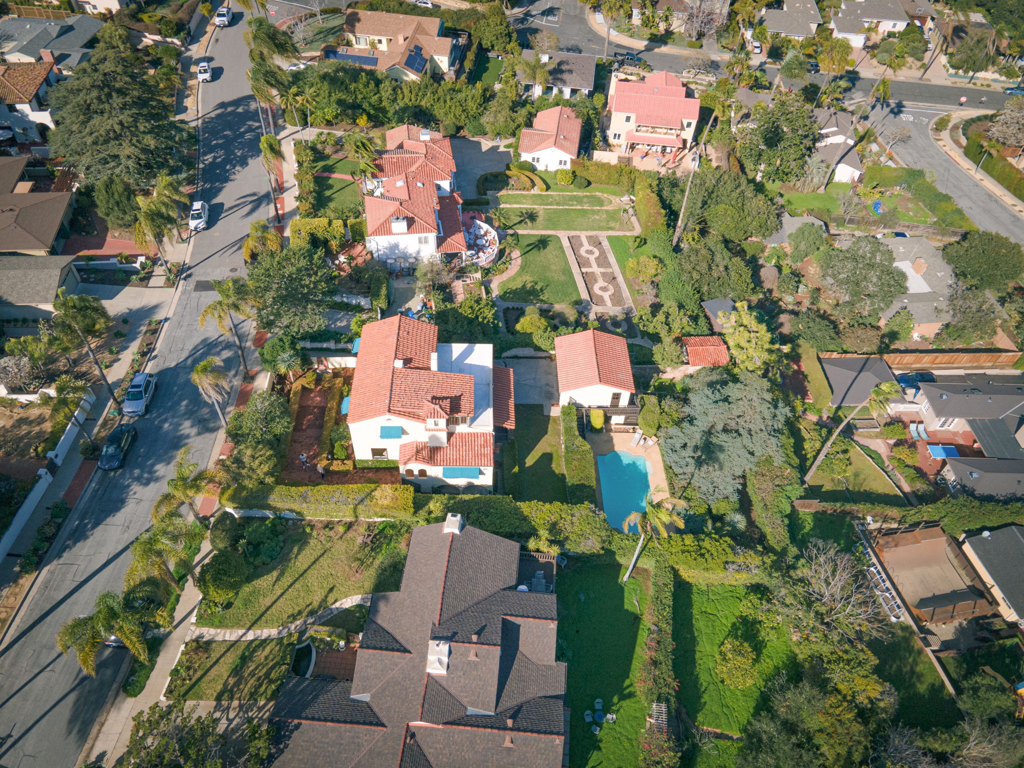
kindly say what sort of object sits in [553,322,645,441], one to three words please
building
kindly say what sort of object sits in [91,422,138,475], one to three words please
car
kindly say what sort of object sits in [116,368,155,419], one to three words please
car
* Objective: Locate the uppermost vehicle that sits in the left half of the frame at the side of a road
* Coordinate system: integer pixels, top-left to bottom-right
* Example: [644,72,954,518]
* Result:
[216,6,231,22]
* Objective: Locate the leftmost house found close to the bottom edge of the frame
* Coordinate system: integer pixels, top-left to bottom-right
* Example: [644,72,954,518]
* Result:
[236,511,570,768]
